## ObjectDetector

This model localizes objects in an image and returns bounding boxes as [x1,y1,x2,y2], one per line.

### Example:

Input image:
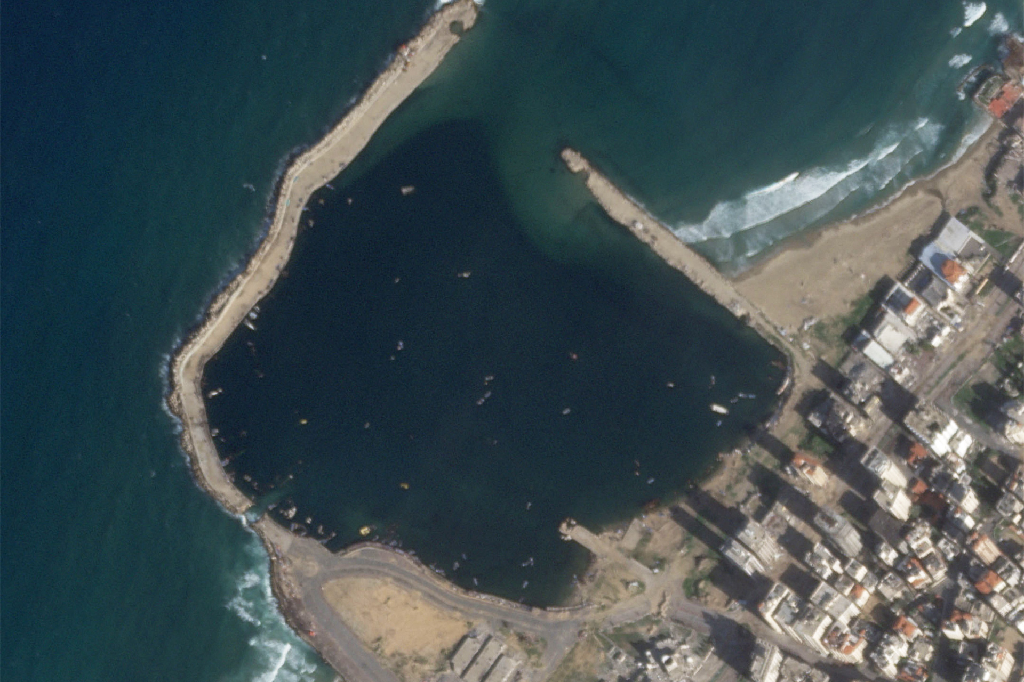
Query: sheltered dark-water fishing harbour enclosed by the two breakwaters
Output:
[201,44,794,608]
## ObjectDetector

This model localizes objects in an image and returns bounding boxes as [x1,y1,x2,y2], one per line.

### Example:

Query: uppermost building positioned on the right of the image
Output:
[989,82,1022,119]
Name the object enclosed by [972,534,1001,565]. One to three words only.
building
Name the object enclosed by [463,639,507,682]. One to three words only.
shed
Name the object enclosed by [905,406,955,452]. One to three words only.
building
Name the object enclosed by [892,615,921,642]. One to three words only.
house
